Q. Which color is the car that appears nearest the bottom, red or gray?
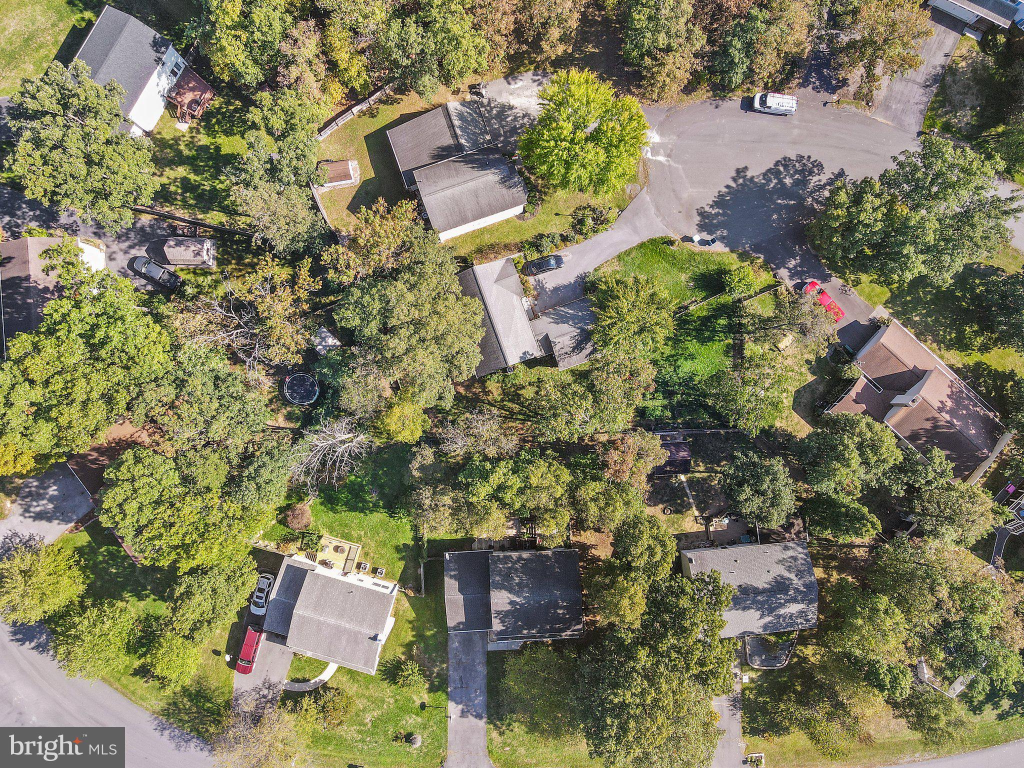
red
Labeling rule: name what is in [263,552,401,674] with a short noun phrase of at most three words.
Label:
house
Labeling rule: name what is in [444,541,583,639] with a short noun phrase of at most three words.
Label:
house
